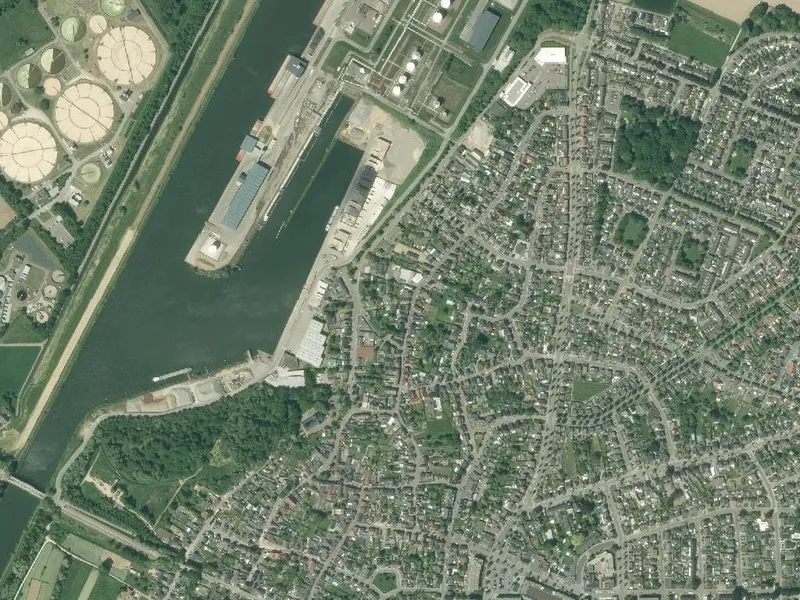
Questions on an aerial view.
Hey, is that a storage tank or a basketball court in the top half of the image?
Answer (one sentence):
Looking in the top half of the image, you will find a storage tank.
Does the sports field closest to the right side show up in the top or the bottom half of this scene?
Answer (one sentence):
The sports field closest to the right side sits in the top half of the picture.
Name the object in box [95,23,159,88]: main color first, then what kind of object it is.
white storage tank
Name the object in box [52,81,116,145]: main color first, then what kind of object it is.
white storage tank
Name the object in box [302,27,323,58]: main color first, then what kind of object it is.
gray ship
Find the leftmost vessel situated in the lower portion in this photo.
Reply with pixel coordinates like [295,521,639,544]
[153,367,192,381]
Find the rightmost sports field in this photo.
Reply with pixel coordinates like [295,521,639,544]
[668,18,730,67]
